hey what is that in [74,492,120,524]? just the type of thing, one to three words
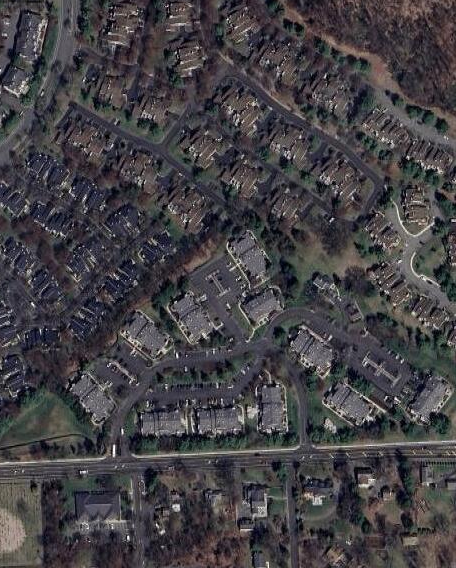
building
